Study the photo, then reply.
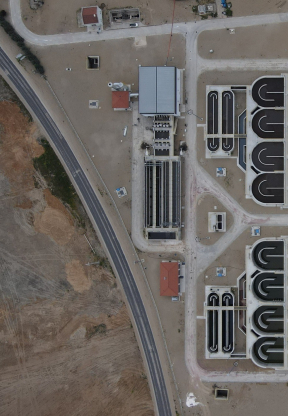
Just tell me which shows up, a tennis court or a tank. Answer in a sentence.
Of the two, only a tank appears.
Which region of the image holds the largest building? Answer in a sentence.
The largest building appears toward the top of the photo.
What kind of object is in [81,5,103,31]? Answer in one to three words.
building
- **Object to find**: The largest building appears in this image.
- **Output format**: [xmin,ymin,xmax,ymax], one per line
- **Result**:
[139,66,180,115]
